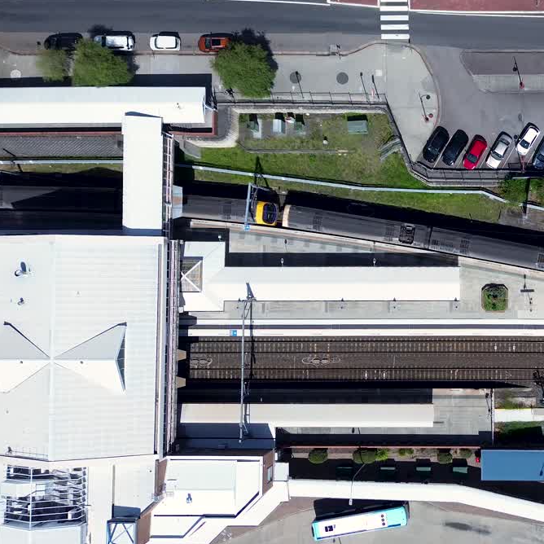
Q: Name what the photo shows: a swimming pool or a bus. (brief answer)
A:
bus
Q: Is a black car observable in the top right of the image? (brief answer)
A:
Yes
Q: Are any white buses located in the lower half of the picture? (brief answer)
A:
Yes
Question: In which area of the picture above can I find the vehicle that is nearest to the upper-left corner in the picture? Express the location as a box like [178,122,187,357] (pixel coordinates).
[47,33,83,51]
